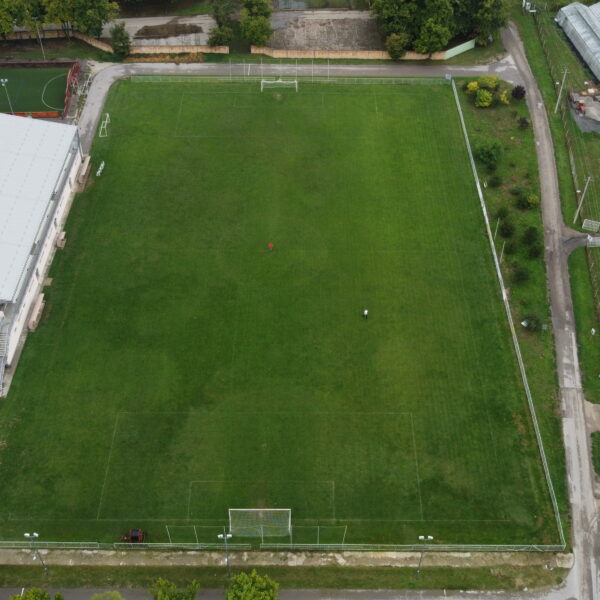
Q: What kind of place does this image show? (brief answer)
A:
sports ground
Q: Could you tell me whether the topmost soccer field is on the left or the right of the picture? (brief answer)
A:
left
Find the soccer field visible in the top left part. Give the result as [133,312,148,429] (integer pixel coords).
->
[0,66,67,117]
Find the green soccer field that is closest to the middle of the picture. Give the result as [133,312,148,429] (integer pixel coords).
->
[0,79,564,554]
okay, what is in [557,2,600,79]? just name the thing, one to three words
greenhouse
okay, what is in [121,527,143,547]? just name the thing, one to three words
work vehicle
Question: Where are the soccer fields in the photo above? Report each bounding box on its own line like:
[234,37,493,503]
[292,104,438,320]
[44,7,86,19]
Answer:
[0,79,564,554]
[0,66,67,117]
